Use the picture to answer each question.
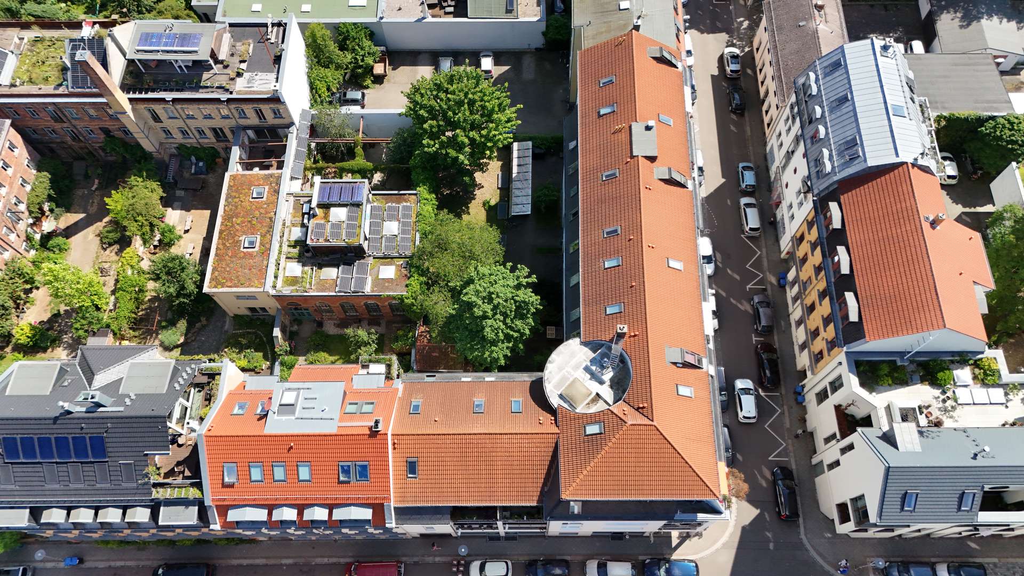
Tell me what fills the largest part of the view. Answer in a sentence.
The scene is dominated by buildings.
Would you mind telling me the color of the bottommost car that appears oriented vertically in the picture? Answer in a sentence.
In this view, the bottommost car that appears oriented vertically is black.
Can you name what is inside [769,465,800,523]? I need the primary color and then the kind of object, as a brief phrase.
black car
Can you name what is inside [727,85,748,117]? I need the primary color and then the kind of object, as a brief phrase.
black car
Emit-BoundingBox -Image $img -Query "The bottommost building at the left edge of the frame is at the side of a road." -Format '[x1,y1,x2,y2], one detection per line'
[0,350,242,538]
